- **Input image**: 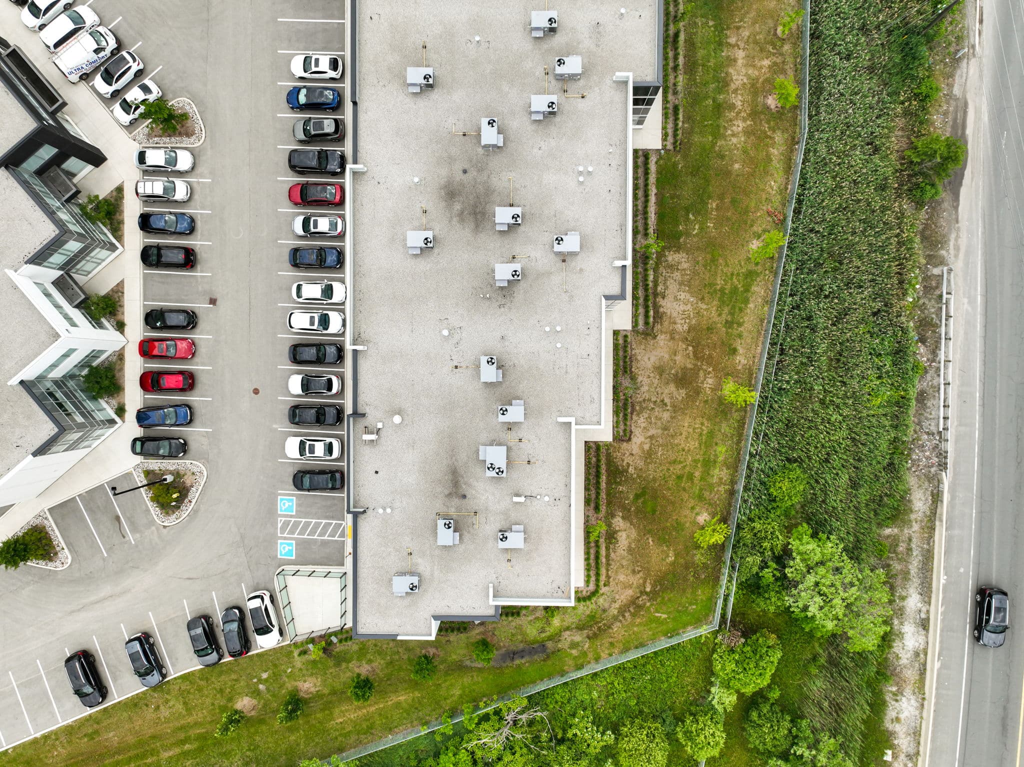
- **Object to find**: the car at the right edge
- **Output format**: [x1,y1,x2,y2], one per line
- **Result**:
[977,589,1012,646]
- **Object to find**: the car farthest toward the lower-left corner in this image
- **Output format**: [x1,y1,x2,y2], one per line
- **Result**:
[64,651,106,709]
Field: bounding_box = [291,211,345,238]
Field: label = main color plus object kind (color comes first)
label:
white car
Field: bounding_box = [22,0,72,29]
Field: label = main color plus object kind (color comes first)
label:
white car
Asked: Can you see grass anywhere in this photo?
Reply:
Yes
